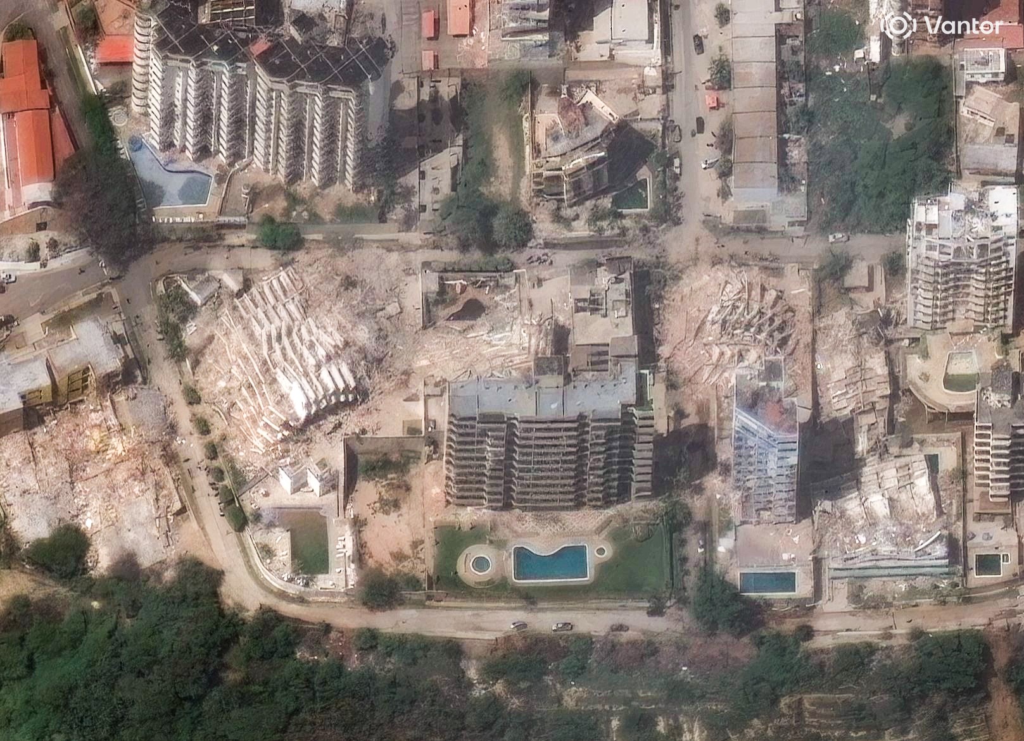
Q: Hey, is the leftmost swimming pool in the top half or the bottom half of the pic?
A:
top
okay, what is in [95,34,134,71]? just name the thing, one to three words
shed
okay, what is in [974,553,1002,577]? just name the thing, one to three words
swimming pool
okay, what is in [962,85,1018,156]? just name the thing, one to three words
house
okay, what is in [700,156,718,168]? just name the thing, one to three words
vehicle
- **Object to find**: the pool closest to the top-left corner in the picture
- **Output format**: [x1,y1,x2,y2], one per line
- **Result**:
[129,137,213,208]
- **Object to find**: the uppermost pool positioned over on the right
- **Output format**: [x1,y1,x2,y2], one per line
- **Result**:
[606,176,649,208]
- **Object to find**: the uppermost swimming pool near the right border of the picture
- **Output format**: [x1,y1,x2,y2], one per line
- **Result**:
[943,350,980,392]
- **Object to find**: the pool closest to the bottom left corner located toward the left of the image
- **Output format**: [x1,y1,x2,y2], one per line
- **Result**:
[291,521,329,575]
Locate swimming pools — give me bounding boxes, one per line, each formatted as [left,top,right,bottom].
[469,552,493,575]
[739,571,797,594]
[129,137,213,208]
[943,350,980,392]
[595,546,606,558]
[606,176,649,208]
[1002,553,1010,564]
[511,544,590,582]
[291,521,329,575]
[974,553,1002,577]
